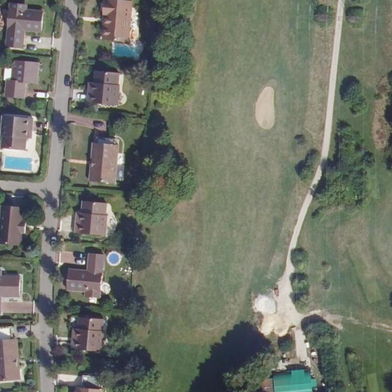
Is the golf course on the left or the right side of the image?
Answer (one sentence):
It is on the right.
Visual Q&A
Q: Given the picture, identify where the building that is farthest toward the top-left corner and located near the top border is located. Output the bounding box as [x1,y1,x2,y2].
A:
[6,2,44,50]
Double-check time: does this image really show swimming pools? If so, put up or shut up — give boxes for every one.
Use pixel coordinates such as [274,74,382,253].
[107,252,124,266]
[4,156,33,172]
[113,43,142,60]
